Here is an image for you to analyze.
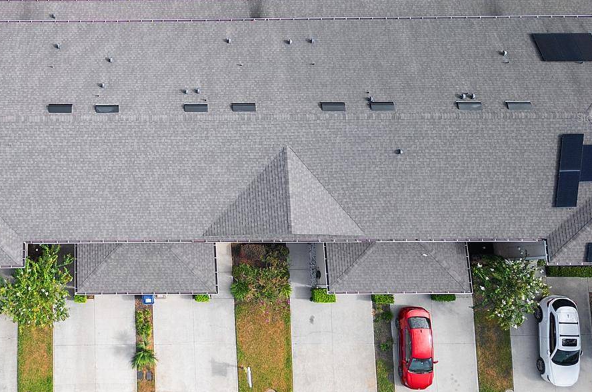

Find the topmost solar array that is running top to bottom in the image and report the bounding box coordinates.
[554,136,592,209]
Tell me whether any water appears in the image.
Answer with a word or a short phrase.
No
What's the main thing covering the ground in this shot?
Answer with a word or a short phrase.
buildings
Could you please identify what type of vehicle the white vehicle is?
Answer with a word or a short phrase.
car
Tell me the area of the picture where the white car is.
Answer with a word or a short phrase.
bottom right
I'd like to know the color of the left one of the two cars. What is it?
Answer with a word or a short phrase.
red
